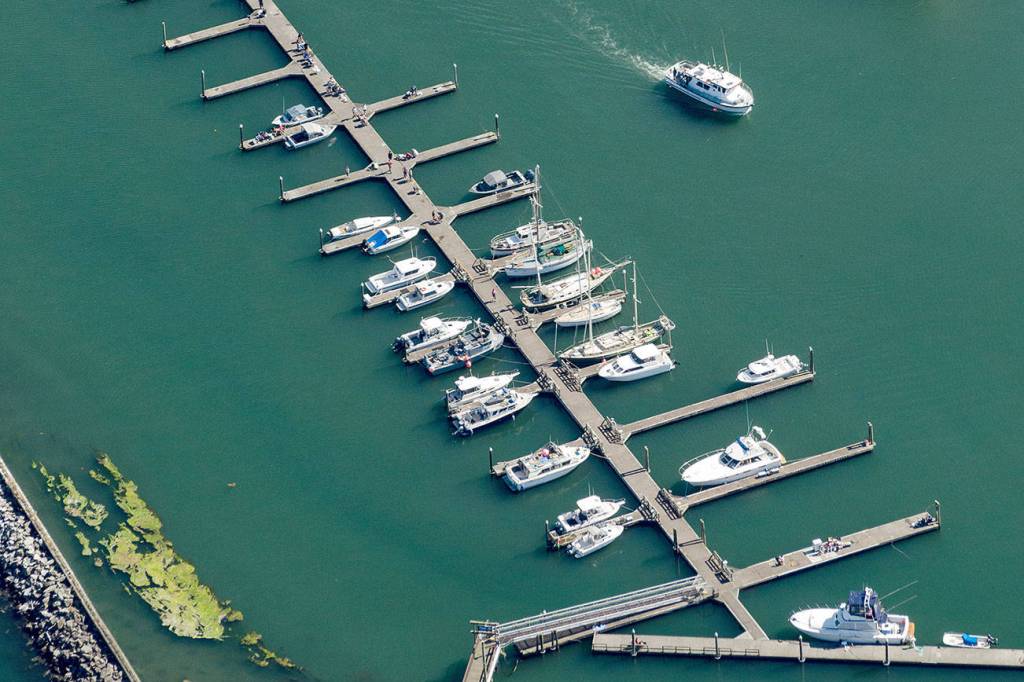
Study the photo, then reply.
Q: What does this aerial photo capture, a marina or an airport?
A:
marina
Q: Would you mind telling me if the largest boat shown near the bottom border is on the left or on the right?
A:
right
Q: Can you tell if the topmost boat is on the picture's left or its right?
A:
right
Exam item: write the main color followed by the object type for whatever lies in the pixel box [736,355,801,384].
white boat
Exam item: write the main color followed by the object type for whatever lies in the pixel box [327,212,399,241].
white boat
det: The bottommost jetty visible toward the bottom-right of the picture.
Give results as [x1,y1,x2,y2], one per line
[595,633,1024,670]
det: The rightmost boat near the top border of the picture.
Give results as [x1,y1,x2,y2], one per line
[665,31,755,115]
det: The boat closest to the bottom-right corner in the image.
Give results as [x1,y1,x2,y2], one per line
[942,633,998,649]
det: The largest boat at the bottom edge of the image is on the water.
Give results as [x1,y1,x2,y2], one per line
[788,587,930,650]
